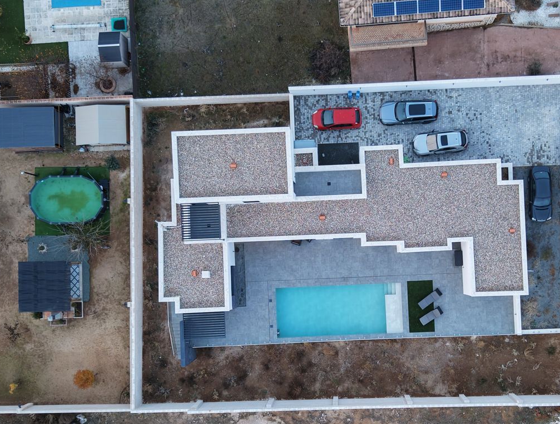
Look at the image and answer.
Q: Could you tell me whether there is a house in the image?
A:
Yes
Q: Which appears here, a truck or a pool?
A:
pool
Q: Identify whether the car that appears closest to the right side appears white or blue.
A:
blue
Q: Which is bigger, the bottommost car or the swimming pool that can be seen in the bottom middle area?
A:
the swimming pool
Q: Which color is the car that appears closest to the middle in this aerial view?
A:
red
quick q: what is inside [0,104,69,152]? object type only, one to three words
shed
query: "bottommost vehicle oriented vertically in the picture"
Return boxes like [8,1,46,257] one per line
[528,166,556,222]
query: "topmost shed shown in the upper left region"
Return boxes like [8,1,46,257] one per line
[98,32,128,68]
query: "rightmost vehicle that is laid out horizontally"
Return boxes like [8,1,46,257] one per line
[412,129,469,157]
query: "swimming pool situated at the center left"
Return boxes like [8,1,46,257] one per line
[29,174,107,225]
